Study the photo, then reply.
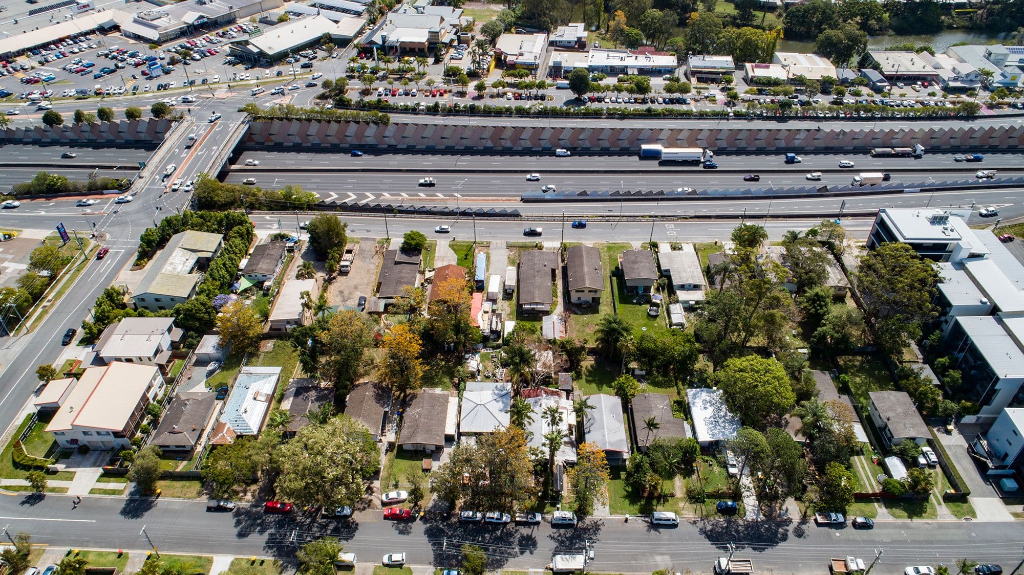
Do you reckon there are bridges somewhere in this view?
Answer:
Yes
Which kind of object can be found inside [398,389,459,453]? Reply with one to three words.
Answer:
house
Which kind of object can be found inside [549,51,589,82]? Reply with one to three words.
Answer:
building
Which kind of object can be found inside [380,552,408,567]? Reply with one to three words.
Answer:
car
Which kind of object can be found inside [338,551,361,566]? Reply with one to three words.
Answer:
vehicle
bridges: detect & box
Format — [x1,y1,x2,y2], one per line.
[129,116,249,196]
